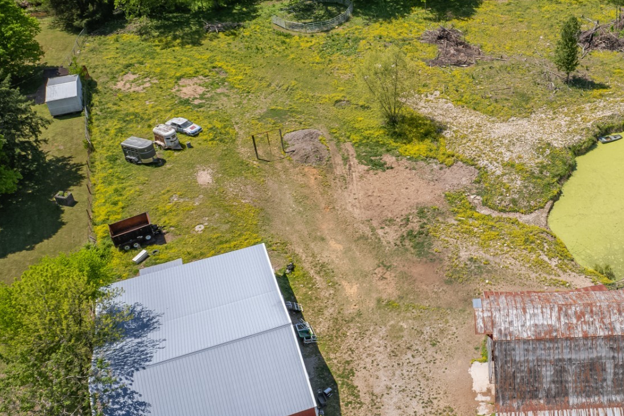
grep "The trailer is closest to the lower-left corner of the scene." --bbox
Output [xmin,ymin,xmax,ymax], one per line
[108,213,170,247]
